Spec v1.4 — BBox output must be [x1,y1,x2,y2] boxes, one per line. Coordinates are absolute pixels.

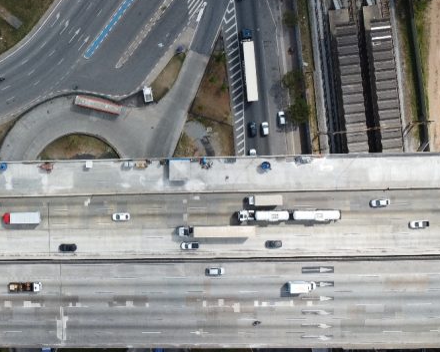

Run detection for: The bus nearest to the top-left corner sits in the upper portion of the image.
[72,96,124,118]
